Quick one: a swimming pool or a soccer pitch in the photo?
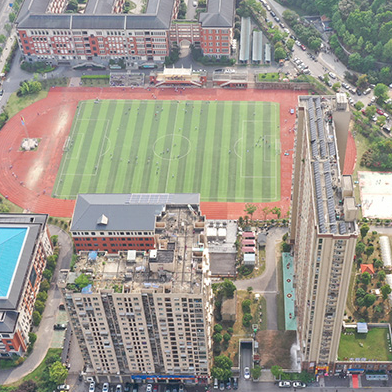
soccer pitch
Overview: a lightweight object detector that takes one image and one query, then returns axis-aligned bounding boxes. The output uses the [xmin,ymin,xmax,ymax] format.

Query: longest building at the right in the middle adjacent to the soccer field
[289,89,372,370]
